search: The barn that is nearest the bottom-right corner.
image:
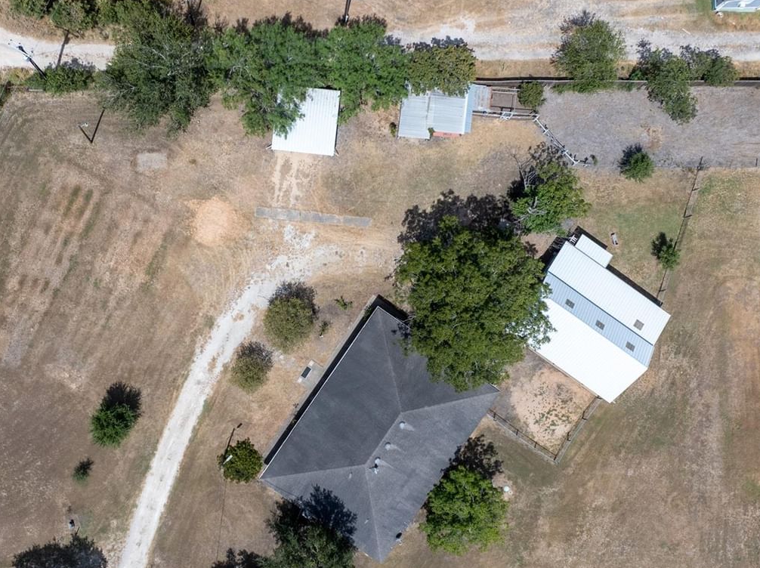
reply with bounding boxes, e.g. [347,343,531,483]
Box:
[512,234,670,403]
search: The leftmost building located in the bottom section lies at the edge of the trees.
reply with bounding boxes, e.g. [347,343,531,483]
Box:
[261,306,499,563]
